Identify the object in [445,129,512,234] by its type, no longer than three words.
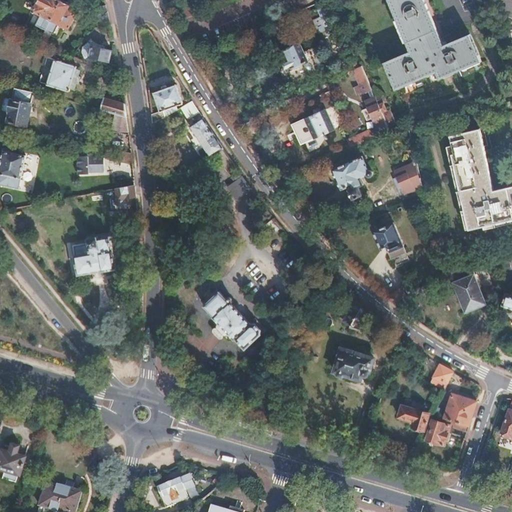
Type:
building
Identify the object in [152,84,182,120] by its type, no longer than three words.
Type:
house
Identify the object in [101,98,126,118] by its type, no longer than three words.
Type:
building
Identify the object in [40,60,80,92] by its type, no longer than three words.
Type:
house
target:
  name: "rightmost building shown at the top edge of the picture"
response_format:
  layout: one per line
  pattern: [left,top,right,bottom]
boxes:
[382,0,480,92]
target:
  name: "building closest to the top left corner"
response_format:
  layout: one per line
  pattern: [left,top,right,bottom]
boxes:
[24,0,76,33]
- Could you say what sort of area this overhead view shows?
residential area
